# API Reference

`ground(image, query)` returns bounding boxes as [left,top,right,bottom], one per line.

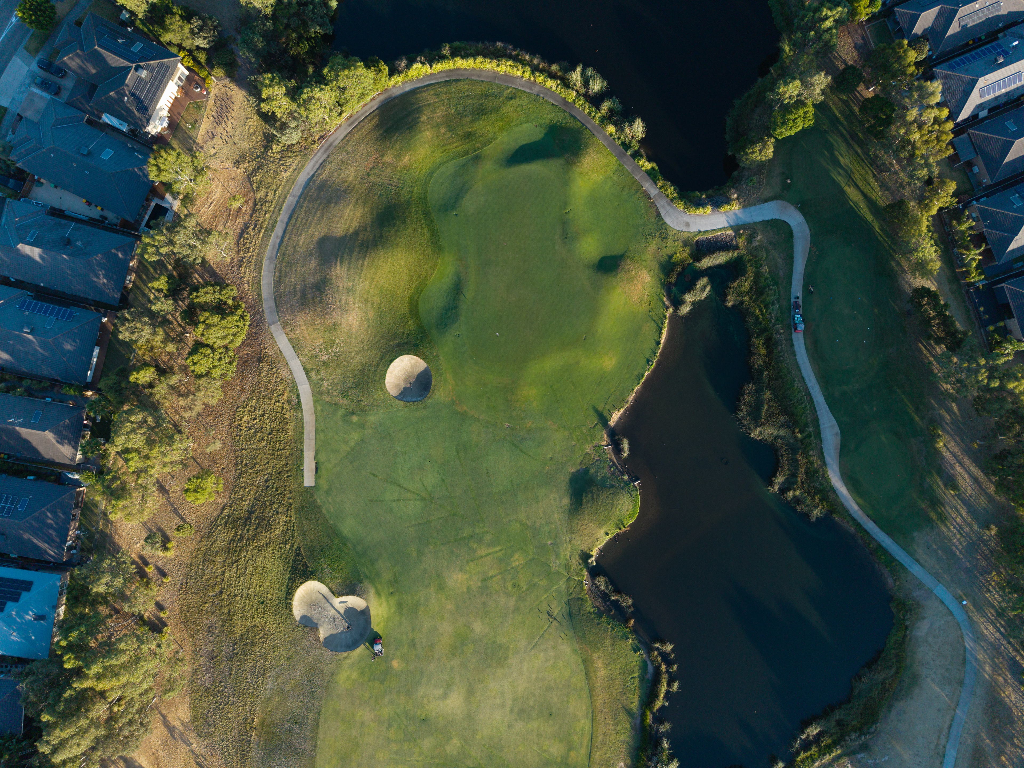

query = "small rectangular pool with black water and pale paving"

[142,196,178,221]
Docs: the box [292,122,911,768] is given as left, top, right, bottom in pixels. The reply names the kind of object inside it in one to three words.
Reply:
golf course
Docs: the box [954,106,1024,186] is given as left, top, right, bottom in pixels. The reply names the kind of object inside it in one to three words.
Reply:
house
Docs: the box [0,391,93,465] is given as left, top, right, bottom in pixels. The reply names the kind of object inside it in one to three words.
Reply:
house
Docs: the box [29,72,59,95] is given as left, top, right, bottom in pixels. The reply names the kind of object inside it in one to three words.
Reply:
car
